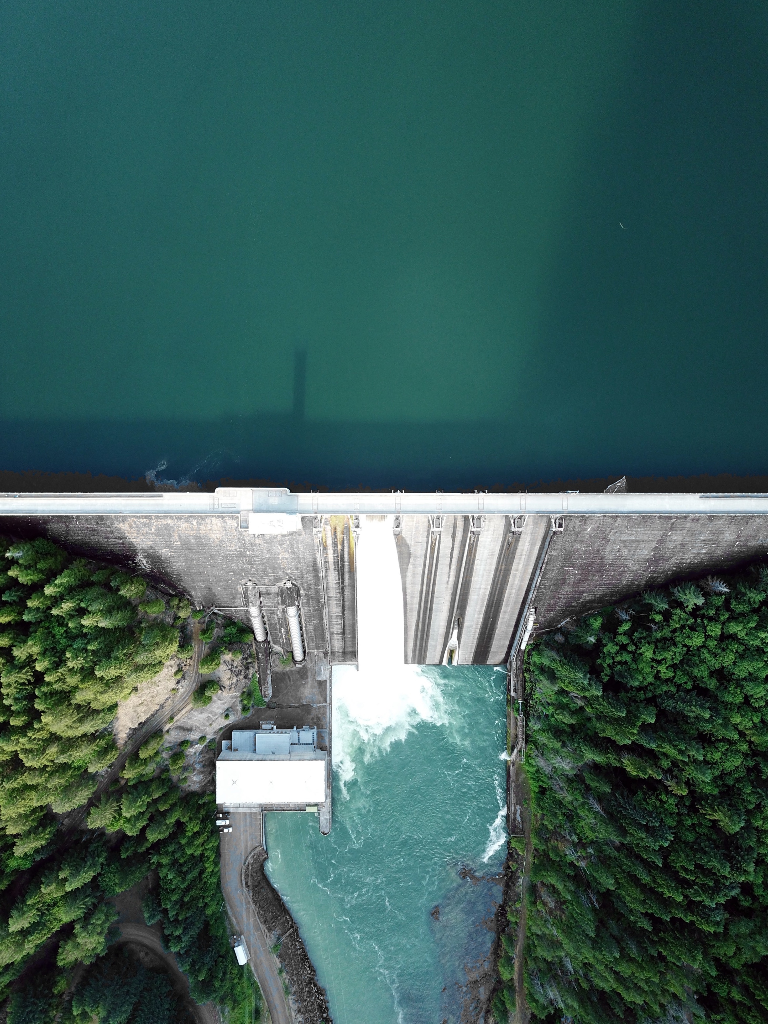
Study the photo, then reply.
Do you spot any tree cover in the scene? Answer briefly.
Yes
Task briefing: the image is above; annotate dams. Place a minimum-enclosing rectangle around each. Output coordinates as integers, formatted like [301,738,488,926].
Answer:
[0,487,768,672]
